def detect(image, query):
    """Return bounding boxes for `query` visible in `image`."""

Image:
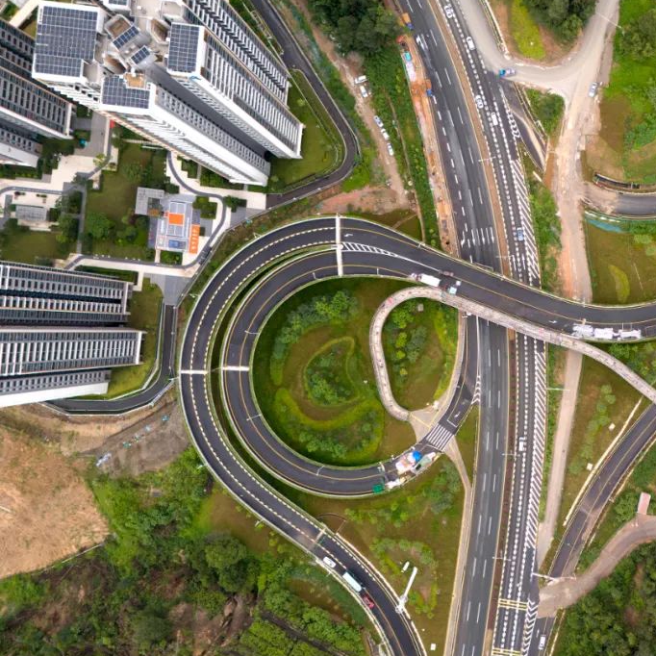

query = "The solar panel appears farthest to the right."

[168,23,199,73]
